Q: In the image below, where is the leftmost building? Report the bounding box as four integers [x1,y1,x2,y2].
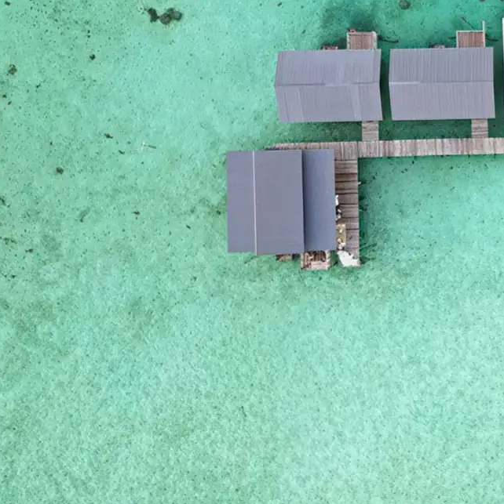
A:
[228,148,337,255]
